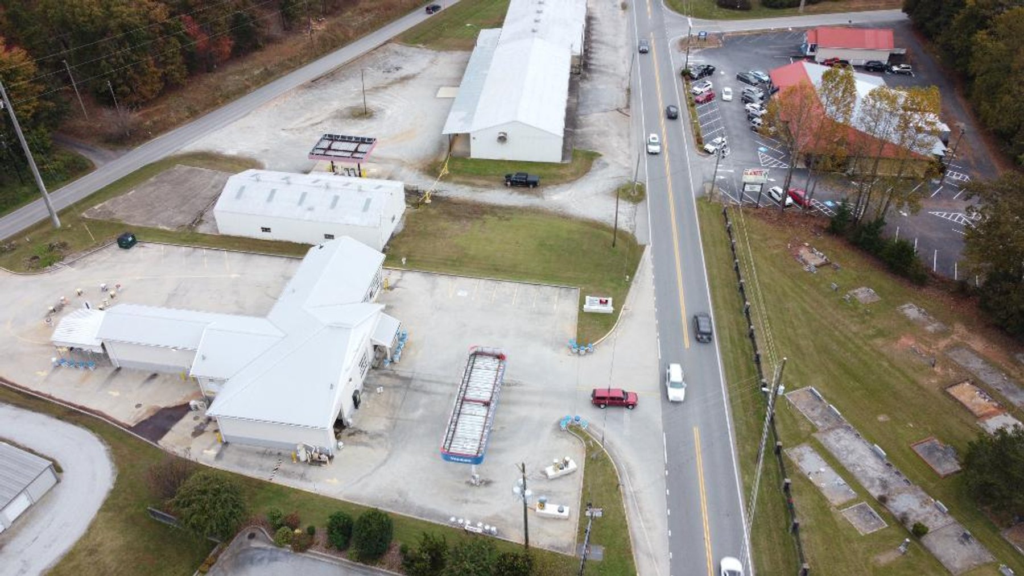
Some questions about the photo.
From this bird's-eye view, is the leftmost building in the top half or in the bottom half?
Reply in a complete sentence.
You can find the leftmost building in the bottom half.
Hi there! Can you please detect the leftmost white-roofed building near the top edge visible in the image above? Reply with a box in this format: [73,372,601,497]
[443,0,587,162]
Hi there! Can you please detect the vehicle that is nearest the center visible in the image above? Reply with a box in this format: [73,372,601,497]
[506,172,539,186]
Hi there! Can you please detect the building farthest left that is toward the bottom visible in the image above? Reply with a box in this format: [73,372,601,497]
[0,437,59,530]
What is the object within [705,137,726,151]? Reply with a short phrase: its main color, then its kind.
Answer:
white car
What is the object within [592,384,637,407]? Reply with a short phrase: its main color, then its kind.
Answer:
red truck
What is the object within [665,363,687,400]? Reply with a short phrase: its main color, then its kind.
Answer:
white car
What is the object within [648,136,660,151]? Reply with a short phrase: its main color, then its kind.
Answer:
white vehicle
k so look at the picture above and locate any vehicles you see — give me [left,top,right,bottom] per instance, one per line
[694,314,713,340]
[750,70,768,83]
[705,137,726,151]
[747,111,768,122]
[864,59,888,71]
[592,384,637,407]
[890,63,913,74]
[426,3,442,12]
[667,107,677,119]
[722,88,732,100]
[506,172,539,186]
[737,72,757,86]
[697,64,714,77]
[690,65,703,76]
[639,39,649,51]
[823,57,849,68]
[742,93,763,106]
[697,91,714,102]
[788,189,815,207]
[745,103,766,114]
[742,85,762,98]
[767,188,794,205]
[665,363,687,400]
[750,117,771,132]
[648,136,660,151]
